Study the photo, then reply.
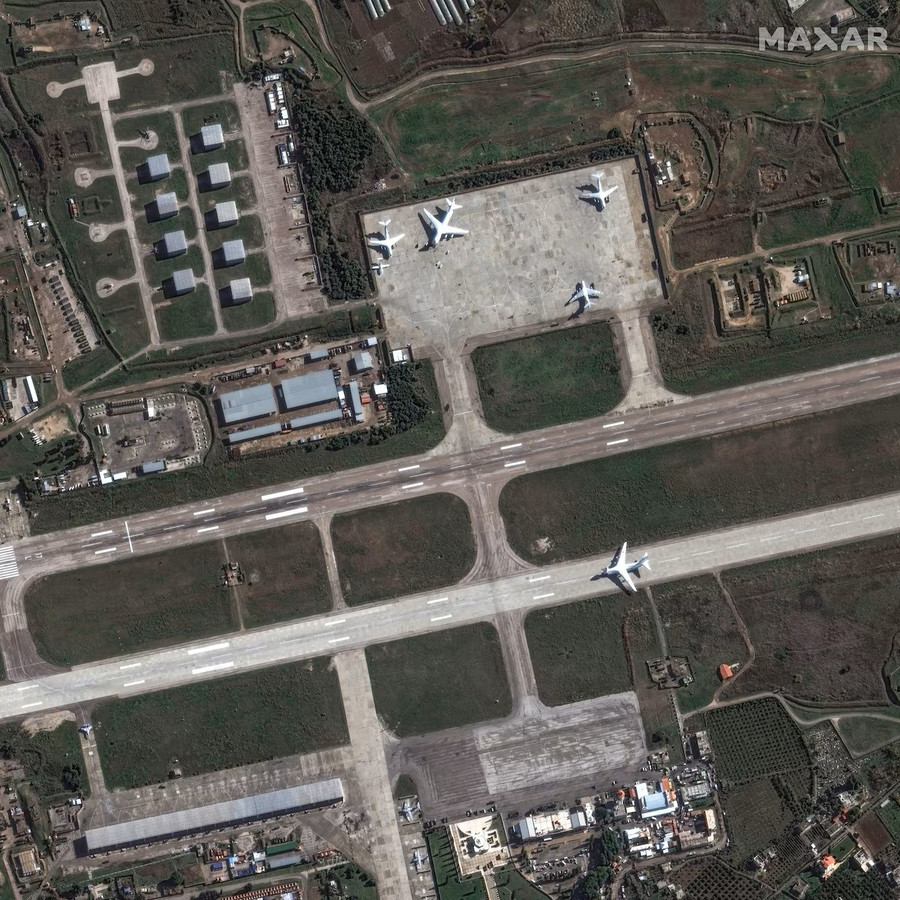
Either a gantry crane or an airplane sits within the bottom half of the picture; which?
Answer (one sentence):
You can see an airplane within the bottom half of the picture.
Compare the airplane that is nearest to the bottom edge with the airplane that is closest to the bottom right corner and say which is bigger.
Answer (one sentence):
Compared with the airplane that is nearest to the bottom edge, the airplane that is closest to the bottom right corner is the larger one.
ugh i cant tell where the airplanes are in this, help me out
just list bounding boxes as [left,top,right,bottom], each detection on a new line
[570,281,605,311]
[606,540,653,590]
[81,722,91,737]
[370,218,404,257]
[425,195,470,243]
[583,169,617,207]
[370,258,388,275]
[411,849,435,874]
[402,798,425,823]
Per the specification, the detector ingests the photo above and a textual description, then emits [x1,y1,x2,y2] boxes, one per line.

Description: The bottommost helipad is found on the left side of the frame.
[96,275,137,296]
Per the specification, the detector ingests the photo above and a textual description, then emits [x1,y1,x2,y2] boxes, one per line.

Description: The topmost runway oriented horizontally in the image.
[0,354,900,583]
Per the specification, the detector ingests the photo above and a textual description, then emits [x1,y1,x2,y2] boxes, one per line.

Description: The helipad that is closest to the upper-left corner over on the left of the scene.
[46,77,84,98]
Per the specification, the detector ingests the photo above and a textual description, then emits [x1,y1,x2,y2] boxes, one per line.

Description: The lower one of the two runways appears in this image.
[0,493,900,727]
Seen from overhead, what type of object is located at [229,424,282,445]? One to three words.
shed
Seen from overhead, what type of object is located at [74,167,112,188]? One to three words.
helipad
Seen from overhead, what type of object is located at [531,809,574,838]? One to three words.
building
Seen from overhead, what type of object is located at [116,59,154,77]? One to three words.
helipad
